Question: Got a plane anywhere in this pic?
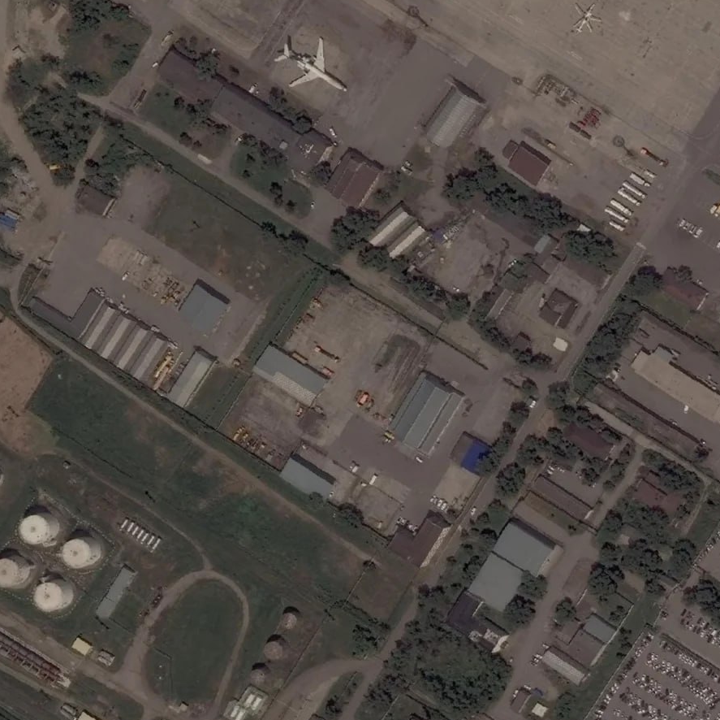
Yes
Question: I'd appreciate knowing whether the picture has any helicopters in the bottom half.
No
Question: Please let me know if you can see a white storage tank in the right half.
No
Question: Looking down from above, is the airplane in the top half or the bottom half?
top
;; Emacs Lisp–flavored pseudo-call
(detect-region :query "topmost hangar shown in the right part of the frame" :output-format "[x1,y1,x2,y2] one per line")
[426,84,488,148]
